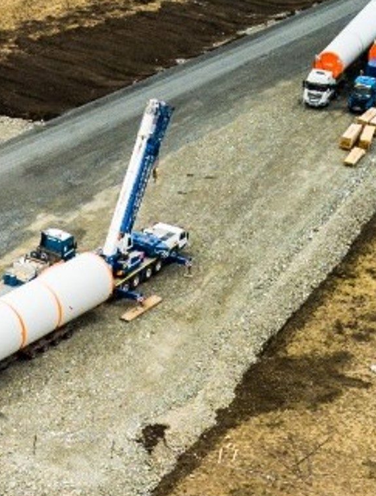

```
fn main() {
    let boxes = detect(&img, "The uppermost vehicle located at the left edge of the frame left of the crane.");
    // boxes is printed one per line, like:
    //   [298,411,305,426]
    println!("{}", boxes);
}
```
[0,224,83,287]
